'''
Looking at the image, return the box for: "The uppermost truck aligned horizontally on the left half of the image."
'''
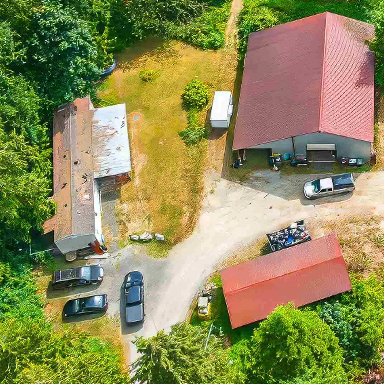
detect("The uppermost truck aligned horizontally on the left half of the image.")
[48,264,108,293]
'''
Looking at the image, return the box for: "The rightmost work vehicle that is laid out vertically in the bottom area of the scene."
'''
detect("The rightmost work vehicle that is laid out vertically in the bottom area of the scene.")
[193,283,216,322]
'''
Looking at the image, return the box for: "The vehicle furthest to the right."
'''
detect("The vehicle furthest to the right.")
[304,171,357,201]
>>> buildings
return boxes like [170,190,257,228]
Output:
[233,14,375,168]
[27,91,121,252]
[221,235,353,336]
